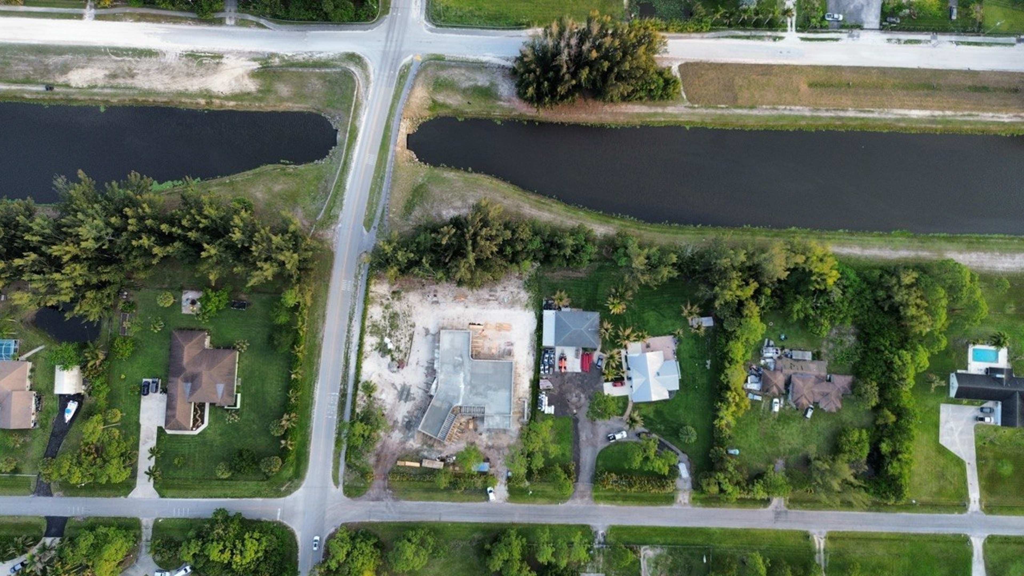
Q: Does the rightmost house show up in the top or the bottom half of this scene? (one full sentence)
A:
The rightmost house is in the bottom half of the image.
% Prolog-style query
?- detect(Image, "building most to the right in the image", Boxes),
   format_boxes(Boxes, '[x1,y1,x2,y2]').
[950,367,1024,427]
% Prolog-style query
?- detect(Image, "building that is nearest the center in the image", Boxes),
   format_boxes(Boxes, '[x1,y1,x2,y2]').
[542,310,600,348]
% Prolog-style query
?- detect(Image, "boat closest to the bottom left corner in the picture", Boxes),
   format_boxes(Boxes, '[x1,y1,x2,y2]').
[64,400,79,424]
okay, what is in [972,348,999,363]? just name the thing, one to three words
swimming pool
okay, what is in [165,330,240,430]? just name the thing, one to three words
house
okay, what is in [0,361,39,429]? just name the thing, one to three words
house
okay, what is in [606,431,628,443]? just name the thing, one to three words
vehicle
